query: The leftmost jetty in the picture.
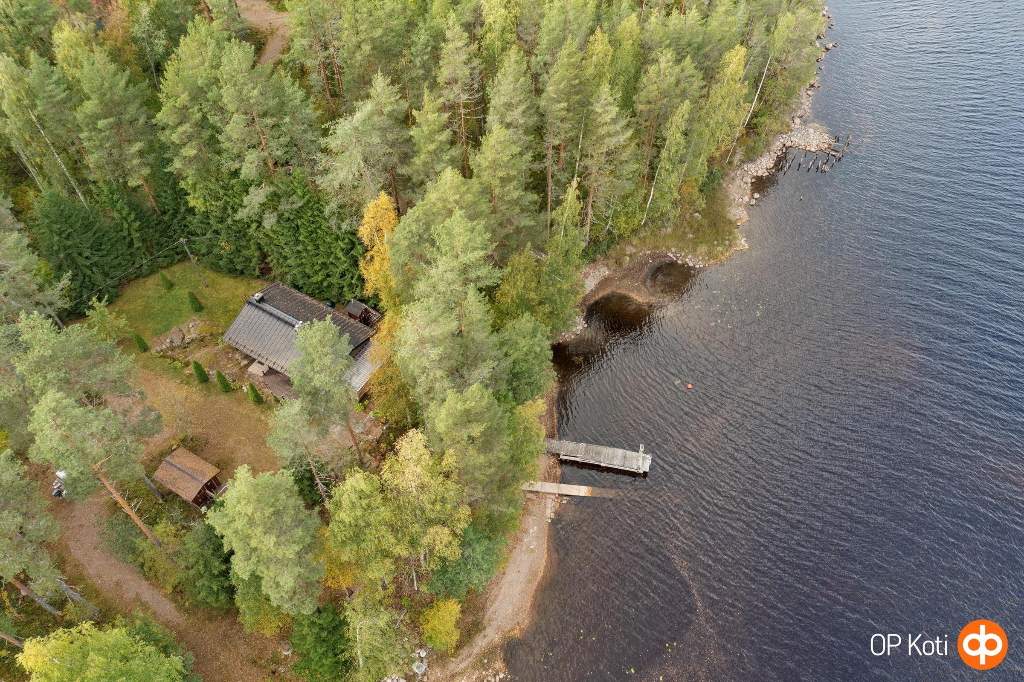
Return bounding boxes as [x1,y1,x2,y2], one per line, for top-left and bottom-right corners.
[543,441,653,478]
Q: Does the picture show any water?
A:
Yes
